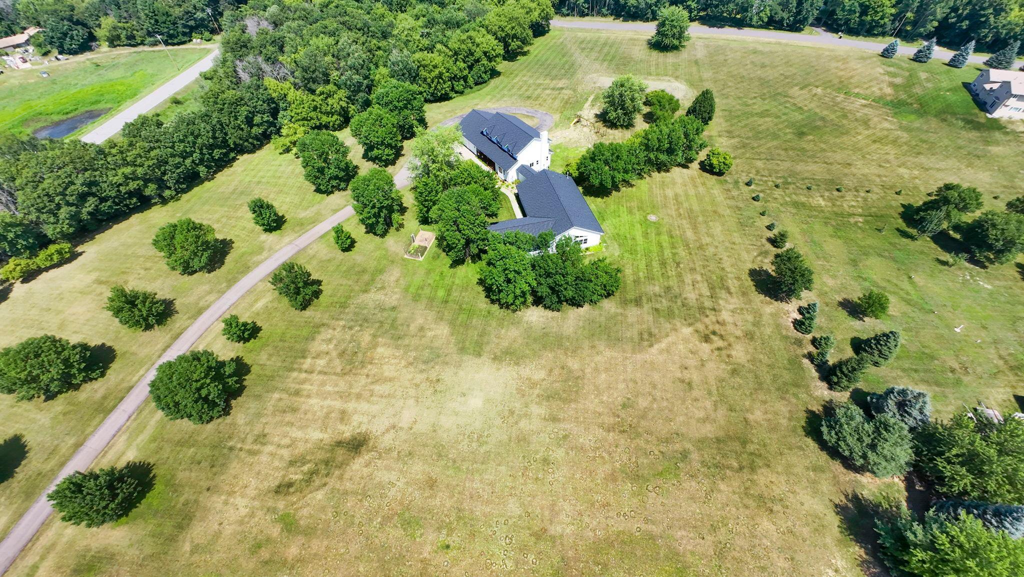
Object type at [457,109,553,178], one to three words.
house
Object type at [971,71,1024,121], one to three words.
house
